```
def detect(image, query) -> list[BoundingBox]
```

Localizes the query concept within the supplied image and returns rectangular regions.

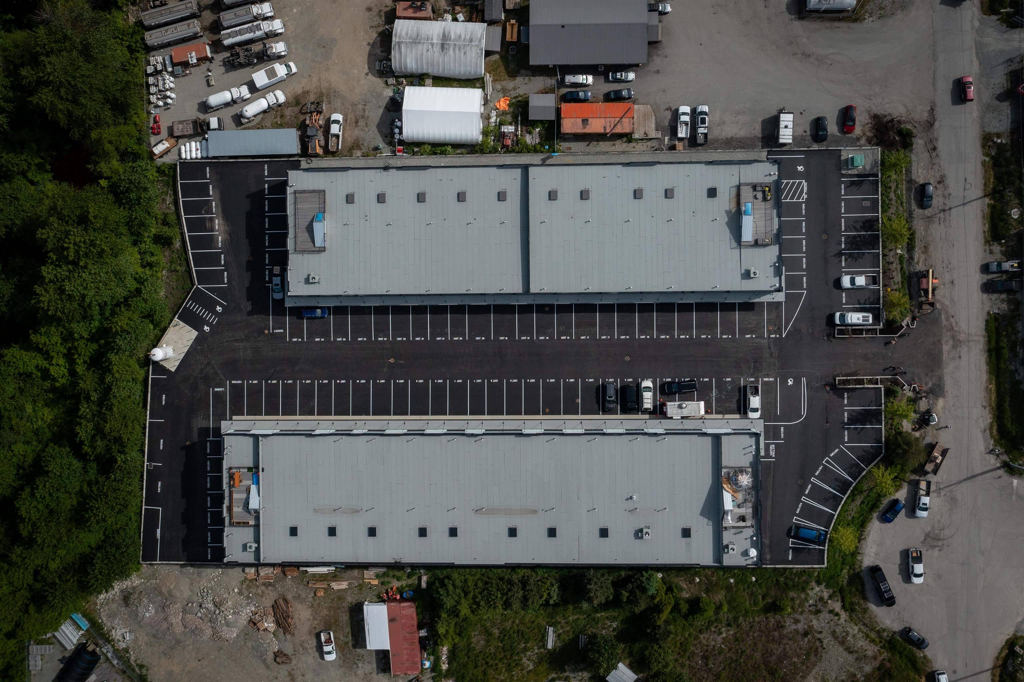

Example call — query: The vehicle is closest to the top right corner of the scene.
[957,75,976,103]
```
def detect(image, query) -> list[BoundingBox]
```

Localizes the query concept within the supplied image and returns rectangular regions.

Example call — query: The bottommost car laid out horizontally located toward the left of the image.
[302,306,330,320]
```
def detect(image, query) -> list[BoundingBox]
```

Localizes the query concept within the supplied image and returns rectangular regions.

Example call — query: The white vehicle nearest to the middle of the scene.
[640,380,654,411]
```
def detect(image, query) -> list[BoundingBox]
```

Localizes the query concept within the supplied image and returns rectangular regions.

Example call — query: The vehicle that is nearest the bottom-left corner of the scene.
[320,628,337,661]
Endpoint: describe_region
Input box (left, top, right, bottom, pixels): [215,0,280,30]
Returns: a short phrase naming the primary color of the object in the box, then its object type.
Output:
gray truck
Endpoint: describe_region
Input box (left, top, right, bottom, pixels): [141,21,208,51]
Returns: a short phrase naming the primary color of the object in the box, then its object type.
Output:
gray trailer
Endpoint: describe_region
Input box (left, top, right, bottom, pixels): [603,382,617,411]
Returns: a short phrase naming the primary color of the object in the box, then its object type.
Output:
black car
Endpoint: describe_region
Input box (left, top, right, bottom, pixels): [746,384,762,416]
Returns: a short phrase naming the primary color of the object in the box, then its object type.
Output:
white vehicle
